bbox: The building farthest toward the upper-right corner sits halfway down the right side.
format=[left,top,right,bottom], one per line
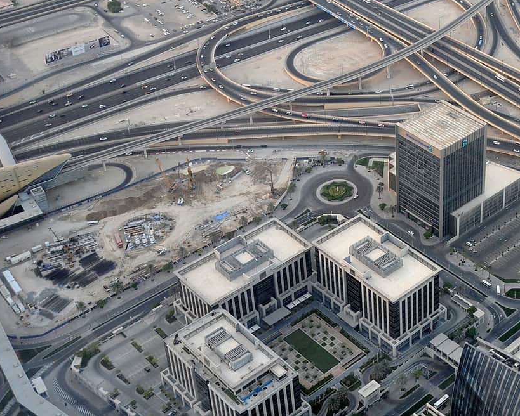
[384,102,520,242]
